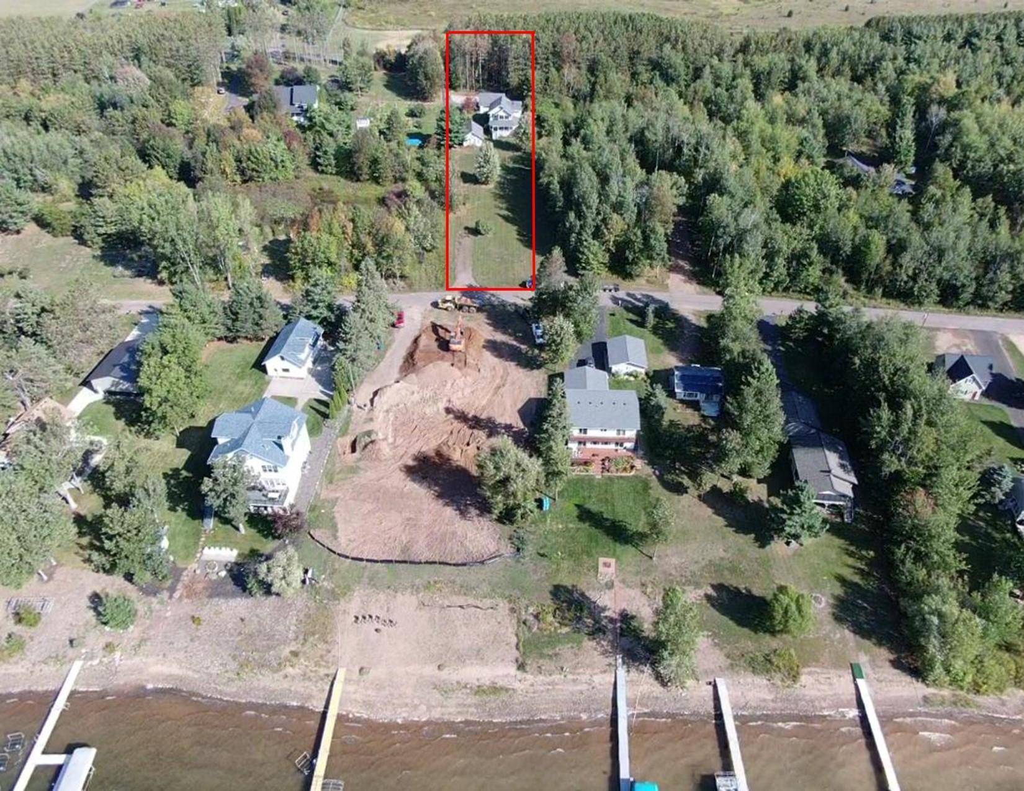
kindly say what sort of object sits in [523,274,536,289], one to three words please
vehicle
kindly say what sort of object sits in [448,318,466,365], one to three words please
work vehicle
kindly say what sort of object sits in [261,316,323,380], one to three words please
building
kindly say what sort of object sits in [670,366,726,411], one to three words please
house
